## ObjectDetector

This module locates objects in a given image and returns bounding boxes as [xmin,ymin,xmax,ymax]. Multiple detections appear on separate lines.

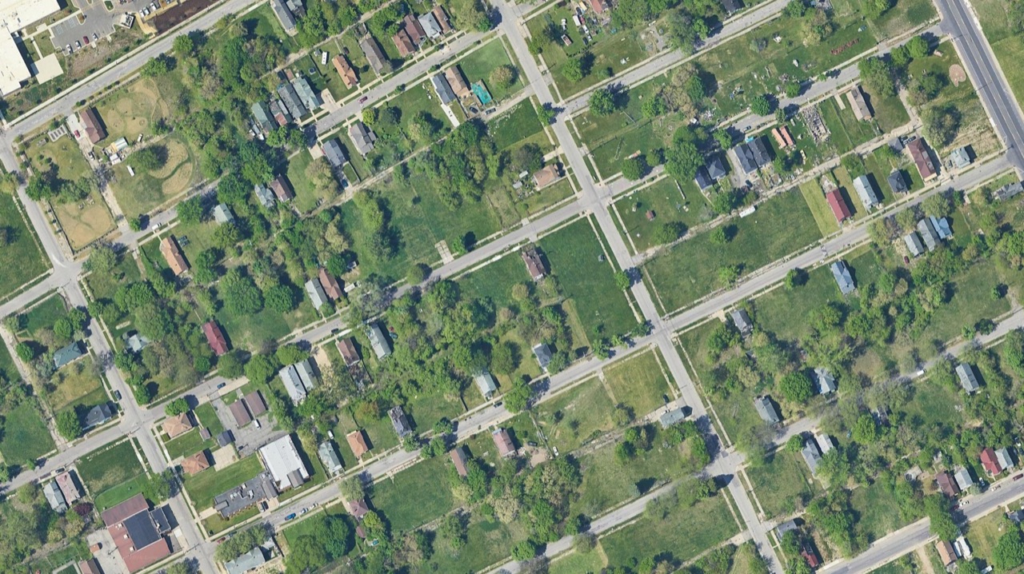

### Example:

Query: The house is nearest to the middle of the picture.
[520,244,546,283]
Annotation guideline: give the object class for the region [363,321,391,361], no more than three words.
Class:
house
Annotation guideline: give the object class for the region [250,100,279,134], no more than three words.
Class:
house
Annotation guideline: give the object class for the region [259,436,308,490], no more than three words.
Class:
building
